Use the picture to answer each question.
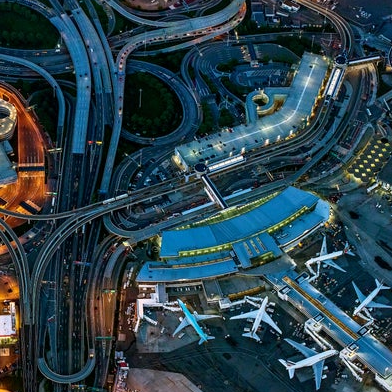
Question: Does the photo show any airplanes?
Yes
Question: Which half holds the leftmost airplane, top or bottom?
bottom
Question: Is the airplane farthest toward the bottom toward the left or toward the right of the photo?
right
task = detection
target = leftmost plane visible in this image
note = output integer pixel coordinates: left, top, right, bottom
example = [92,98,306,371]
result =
[176,300,217,345]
